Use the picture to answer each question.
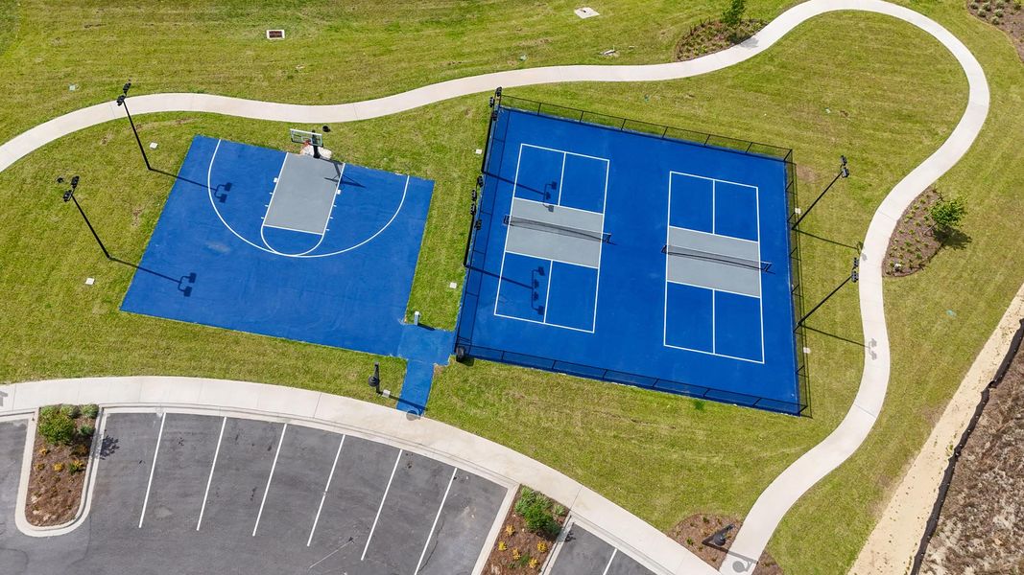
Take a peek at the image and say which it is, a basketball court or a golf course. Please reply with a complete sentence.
The image shows a basketball court.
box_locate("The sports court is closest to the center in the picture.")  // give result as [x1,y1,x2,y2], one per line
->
[452,104,642,387]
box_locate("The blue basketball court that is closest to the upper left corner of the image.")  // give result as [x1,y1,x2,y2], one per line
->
[119,137,434,357]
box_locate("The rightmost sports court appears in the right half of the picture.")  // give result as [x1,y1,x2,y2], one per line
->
[626,131,803,419]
